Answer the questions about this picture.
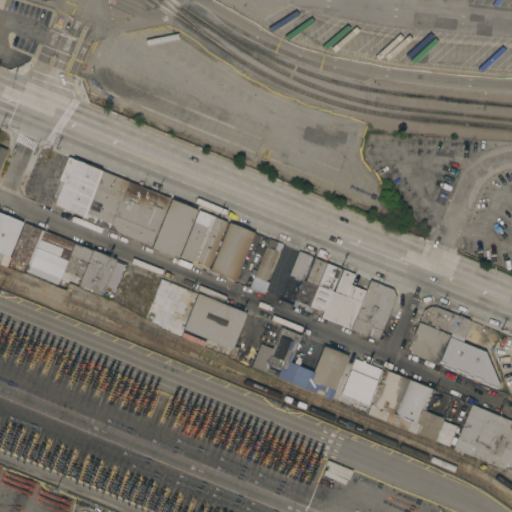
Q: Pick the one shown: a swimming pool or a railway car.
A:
railway car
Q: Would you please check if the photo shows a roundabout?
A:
No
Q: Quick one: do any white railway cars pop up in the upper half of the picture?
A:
No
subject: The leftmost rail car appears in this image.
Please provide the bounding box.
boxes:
[238,374,284,398]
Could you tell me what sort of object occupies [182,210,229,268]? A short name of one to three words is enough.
building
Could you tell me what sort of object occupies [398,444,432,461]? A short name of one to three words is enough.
rail car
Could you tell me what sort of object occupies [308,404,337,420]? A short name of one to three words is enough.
rail car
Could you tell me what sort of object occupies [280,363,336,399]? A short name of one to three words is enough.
building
